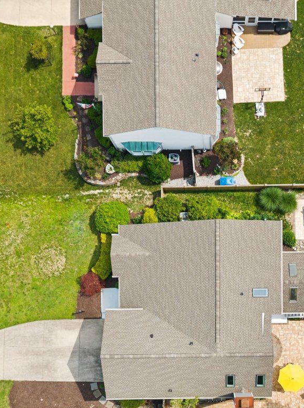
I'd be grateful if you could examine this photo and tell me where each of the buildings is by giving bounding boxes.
[77,0,299,157]
[101,220,304,408]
